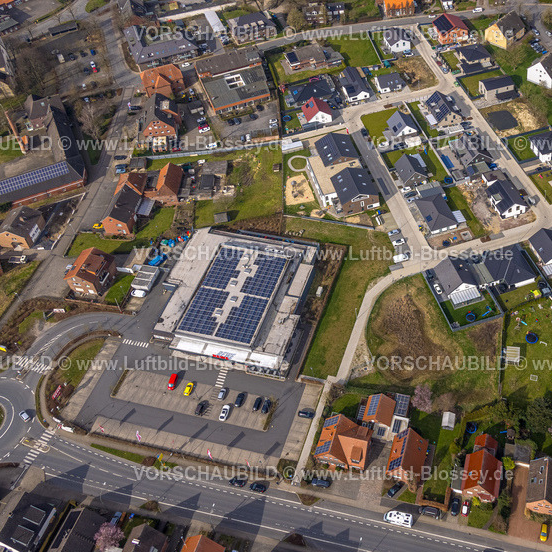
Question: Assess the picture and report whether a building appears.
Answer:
Yes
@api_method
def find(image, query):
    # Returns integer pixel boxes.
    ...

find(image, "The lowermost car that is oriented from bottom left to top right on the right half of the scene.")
[388,482,403,498]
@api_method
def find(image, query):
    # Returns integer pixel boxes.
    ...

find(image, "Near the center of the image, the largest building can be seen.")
[152,226,319,370]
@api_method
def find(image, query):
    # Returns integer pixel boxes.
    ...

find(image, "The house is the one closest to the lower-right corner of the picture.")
[527,458,552,518]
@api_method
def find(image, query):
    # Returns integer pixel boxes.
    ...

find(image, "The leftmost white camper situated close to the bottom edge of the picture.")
[383,507,413,528]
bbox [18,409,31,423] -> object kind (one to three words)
vehicle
